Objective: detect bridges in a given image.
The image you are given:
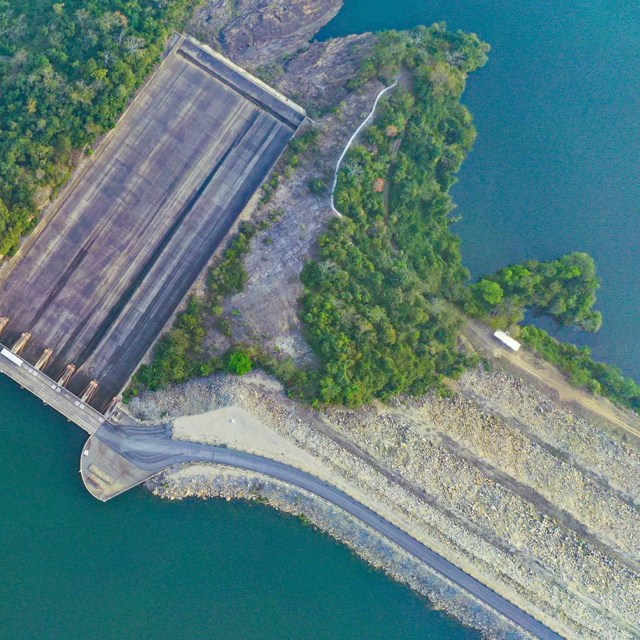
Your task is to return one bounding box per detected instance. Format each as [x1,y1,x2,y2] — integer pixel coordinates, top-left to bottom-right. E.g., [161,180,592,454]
[0,340,108,434]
